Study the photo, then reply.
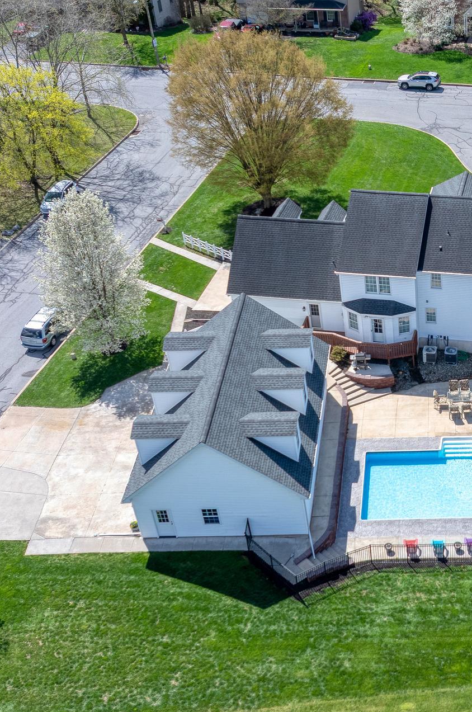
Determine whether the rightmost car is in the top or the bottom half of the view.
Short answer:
top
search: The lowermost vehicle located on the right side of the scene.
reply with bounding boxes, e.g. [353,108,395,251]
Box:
[396,68,442,91]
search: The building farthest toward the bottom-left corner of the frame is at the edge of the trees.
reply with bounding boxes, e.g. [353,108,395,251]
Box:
[119,291,332,558]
